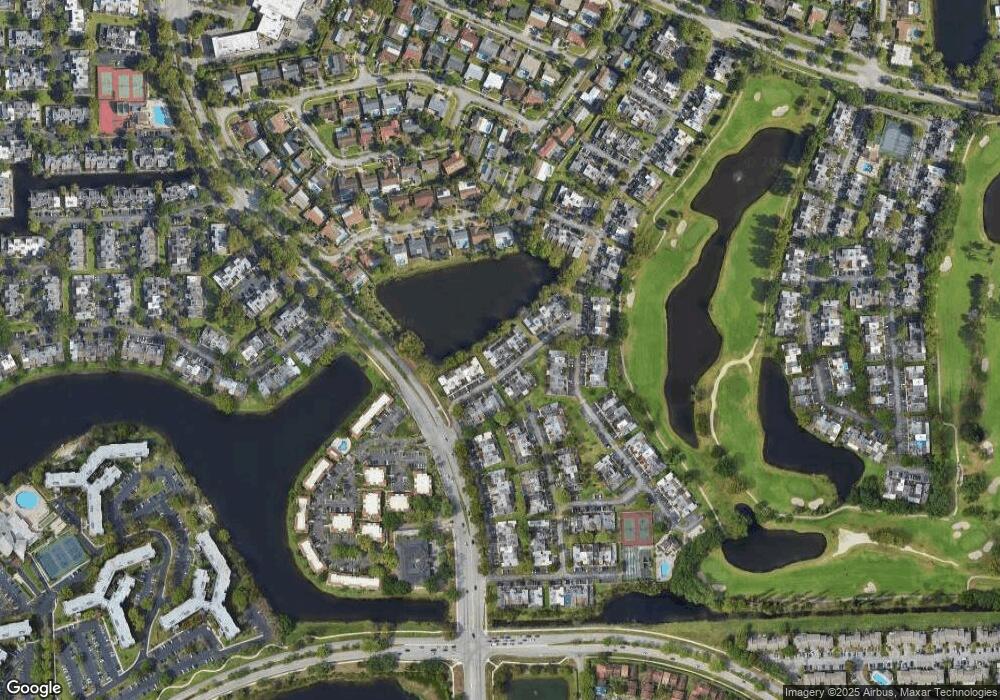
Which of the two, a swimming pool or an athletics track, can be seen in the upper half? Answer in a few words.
swimming pool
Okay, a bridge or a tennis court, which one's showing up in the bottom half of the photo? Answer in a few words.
tennis court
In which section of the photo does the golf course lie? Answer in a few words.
right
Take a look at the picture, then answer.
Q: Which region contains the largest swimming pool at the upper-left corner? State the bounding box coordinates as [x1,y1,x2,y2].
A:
[140,100,177,130]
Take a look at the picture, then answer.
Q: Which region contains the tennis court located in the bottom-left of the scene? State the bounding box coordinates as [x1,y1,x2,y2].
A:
[34,535,90,582]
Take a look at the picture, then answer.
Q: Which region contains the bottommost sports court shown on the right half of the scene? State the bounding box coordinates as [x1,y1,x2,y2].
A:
[622,547,652,580]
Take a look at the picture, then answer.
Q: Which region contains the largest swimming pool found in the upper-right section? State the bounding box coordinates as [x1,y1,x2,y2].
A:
[856,155,882,178]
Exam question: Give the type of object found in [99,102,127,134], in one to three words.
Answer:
sports court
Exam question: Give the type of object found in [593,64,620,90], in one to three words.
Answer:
house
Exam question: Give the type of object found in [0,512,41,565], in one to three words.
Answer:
building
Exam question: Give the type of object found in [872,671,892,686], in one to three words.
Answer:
swimming pool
